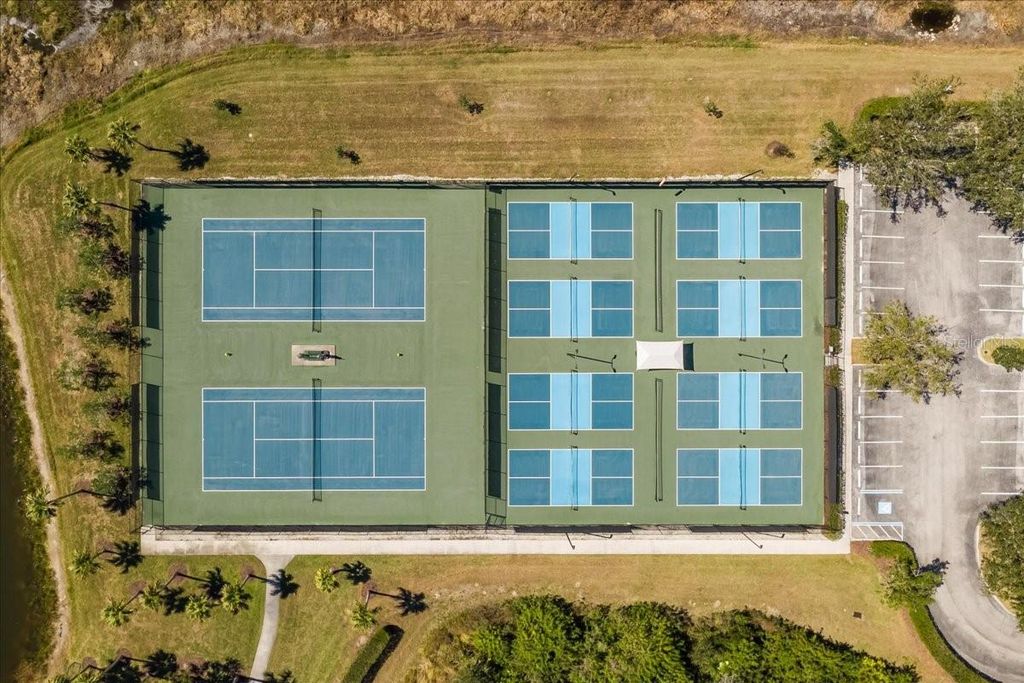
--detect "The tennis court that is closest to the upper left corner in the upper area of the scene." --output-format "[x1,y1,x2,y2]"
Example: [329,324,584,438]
[202,218,426,321]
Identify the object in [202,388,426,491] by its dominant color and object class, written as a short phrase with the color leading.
blue tennis court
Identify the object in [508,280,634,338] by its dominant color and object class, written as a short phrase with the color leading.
blue sports court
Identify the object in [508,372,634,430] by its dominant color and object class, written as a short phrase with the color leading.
blue sports court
